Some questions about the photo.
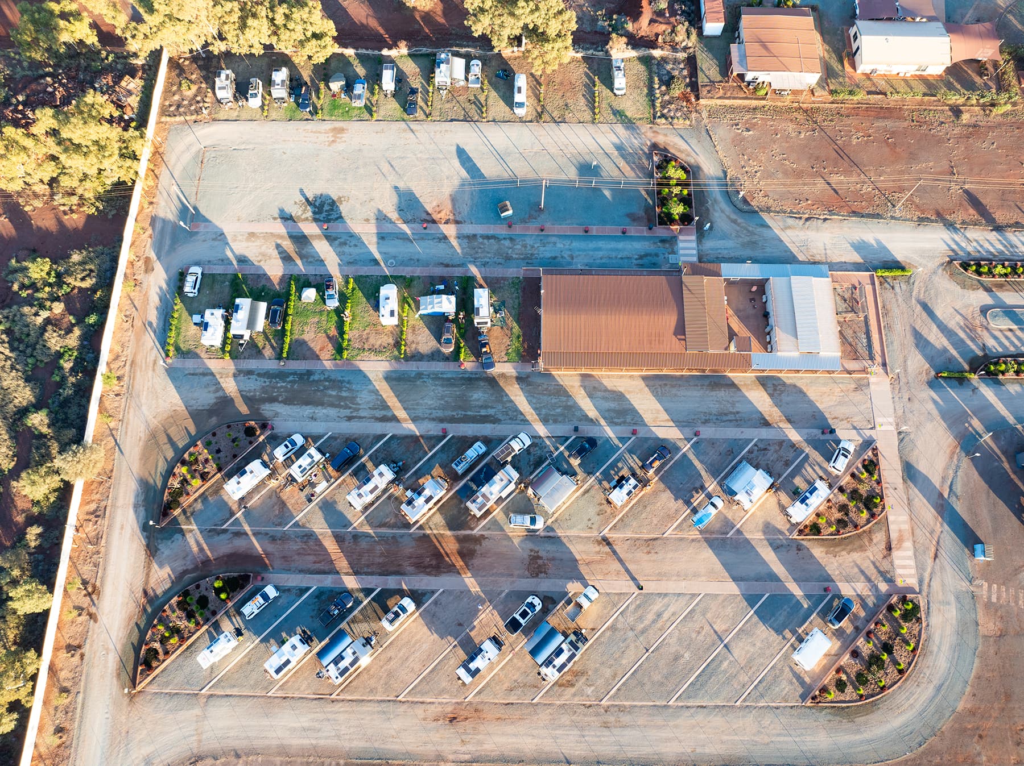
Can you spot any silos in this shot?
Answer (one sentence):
No, no silo is visible in the scene.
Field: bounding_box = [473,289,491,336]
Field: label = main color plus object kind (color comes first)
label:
white camper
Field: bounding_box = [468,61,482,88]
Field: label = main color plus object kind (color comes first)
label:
white vehicle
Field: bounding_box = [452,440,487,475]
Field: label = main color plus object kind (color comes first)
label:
blue truck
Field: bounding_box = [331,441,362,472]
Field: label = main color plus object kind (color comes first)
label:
blue car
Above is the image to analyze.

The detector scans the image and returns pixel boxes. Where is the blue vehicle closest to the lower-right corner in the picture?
[825,596,857,631]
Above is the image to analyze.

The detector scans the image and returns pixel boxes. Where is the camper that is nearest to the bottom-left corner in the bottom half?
[197,629,247,670]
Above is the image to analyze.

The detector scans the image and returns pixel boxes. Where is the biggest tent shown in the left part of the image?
[328,71,345,91]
